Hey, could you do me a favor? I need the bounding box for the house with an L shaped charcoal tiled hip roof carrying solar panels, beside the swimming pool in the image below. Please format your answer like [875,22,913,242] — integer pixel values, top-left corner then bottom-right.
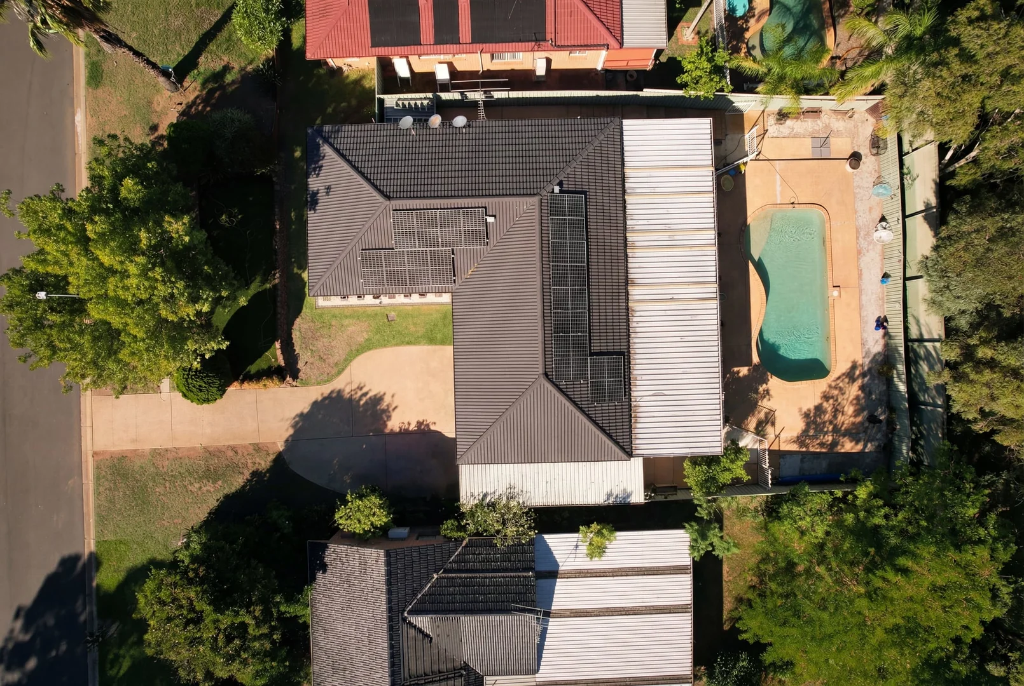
[306,115,634,466]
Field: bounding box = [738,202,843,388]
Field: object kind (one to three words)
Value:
swimming pool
